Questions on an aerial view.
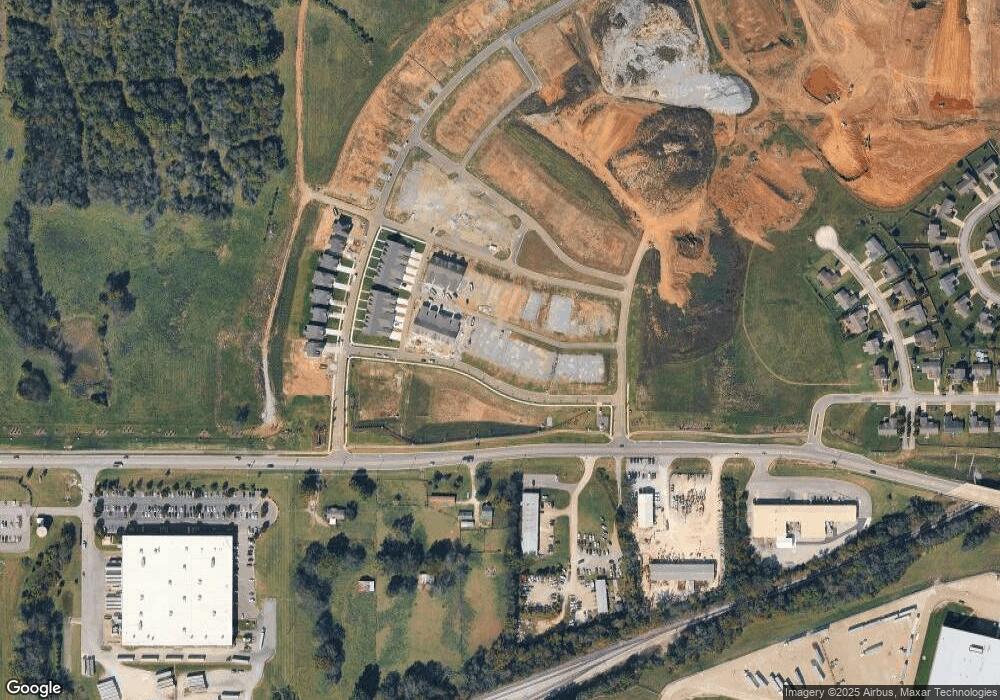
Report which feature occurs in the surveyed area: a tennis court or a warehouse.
warehouse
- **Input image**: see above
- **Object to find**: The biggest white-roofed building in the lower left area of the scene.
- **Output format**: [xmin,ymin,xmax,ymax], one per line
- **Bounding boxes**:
[121,535,232,645]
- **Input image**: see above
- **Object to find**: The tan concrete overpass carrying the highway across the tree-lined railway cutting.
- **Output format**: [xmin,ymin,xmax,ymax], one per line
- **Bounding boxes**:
[947,483,1000,507]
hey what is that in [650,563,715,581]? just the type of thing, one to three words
shed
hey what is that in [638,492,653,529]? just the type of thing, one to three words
building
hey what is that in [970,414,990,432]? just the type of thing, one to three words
house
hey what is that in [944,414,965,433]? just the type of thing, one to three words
house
